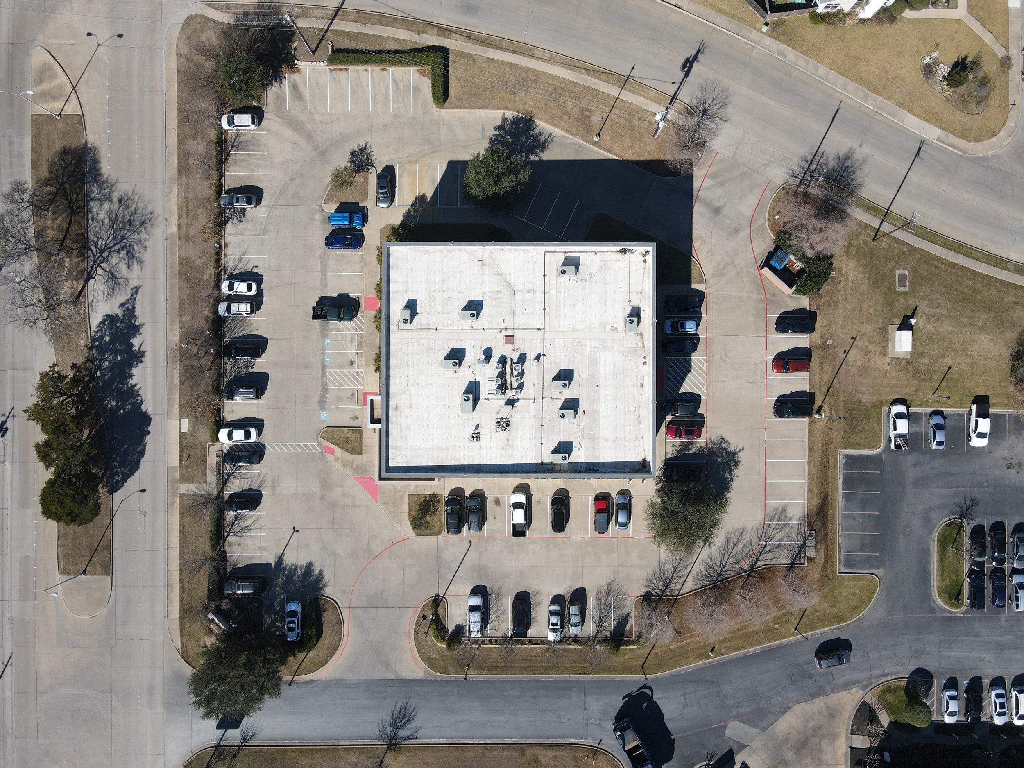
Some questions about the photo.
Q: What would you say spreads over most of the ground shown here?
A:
paved ground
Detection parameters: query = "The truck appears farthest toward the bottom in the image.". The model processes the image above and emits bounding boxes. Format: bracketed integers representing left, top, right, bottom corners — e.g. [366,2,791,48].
[610,715,651,768]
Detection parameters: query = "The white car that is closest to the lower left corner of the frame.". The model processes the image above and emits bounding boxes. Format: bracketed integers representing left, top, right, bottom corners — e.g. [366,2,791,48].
[218,426,259,444]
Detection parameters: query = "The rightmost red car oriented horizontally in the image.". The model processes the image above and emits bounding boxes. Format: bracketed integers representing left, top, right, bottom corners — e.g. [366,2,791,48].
[771,357,810,375]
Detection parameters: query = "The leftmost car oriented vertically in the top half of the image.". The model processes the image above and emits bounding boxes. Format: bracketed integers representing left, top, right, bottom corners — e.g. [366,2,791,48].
[375,172,392,208]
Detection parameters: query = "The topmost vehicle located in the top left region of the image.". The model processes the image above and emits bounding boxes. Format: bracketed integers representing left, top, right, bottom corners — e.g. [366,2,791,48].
[221,112,259,131]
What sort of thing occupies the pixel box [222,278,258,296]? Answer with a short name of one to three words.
car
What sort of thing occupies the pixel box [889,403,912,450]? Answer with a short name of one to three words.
truck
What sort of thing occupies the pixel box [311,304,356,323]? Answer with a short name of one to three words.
vehicle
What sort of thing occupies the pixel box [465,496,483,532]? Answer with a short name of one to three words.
car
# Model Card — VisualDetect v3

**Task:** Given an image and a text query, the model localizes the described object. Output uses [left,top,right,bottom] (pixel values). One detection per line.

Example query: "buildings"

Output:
[816,0,911,17]
[367,242,656,484]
